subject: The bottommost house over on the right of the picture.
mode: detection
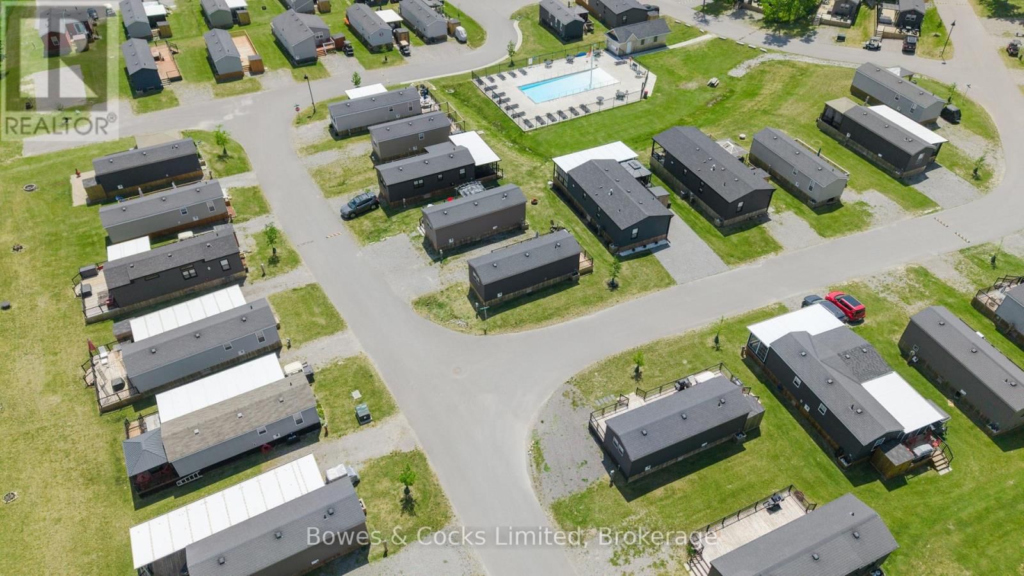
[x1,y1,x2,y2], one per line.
[710,493,900,576]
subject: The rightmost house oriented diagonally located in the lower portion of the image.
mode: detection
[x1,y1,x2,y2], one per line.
[904,306,1024,432]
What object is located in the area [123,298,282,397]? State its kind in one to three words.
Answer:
house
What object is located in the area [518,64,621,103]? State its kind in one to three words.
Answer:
swimming pool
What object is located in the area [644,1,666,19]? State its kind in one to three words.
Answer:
car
